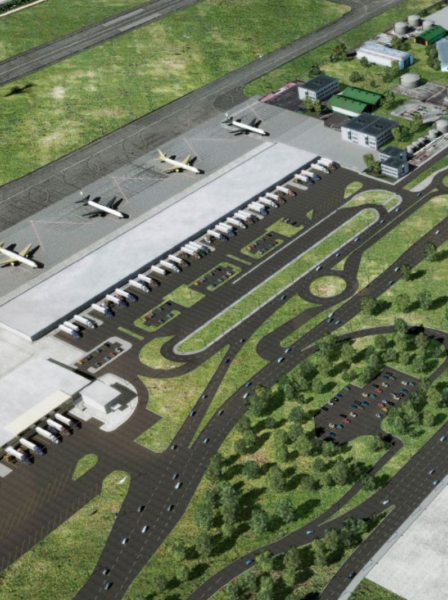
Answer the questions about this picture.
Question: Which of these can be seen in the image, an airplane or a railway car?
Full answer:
Of the two, only an airplane appears.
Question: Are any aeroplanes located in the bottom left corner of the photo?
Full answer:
No, no aeroplane can be made out in the bottom left corner of the photo.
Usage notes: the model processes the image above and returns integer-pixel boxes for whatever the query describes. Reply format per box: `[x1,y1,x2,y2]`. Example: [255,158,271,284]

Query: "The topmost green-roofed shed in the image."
[412,26,448,46]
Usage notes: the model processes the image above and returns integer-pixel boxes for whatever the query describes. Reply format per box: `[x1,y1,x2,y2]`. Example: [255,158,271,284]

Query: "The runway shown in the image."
[0,0,199,85]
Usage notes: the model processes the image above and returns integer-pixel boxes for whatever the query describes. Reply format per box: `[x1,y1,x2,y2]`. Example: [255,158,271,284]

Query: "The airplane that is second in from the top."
[152,143,200,174]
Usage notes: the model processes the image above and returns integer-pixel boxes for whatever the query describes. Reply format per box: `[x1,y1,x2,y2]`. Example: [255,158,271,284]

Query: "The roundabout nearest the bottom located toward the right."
[309,276,347,297]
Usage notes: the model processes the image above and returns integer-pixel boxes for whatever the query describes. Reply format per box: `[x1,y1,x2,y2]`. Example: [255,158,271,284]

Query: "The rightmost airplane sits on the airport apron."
[220,104,269,136]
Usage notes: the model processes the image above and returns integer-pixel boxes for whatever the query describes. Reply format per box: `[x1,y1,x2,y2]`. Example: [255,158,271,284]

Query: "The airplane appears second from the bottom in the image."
[76,186,124,218]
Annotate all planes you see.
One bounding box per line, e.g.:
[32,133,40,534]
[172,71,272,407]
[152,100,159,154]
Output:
[0,239,38,269]
[220,104,269,136]
[152,143,200,174]
[76,186,124,218]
